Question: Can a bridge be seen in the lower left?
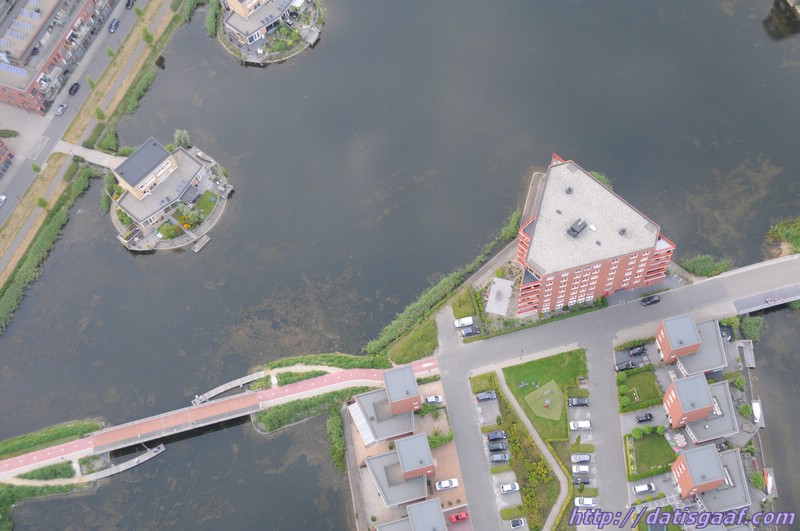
Yes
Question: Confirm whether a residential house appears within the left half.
Yes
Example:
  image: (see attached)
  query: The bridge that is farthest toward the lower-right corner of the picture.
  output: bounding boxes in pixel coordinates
[720,251,800,315]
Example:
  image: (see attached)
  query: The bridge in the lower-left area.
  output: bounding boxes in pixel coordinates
[92,391,263,456]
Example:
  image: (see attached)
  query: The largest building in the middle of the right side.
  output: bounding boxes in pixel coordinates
[516,153,676,314]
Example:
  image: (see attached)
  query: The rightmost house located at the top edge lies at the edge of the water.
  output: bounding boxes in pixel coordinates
[224,0,295,46]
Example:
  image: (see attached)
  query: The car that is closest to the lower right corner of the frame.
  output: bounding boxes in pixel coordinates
[632,483,657,495]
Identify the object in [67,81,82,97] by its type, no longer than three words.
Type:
car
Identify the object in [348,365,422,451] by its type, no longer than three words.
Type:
house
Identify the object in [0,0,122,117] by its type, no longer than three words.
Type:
building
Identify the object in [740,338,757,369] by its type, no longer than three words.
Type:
pier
